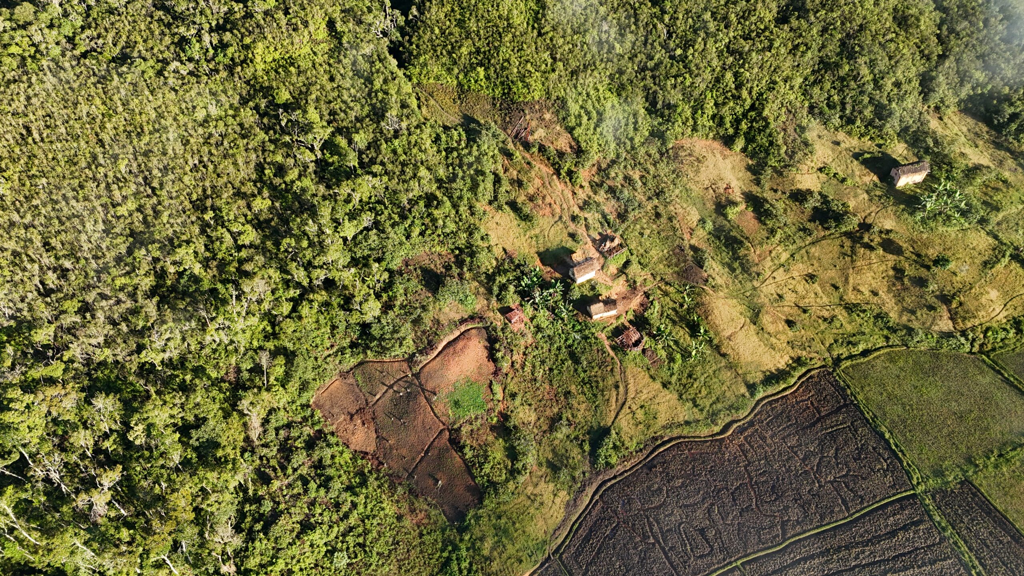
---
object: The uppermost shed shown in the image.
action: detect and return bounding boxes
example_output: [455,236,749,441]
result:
[889,161,932,187]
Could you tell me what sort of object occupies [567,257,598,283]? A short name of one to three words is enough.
shed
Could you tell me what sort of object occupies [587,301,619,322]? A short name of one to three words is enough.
shed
